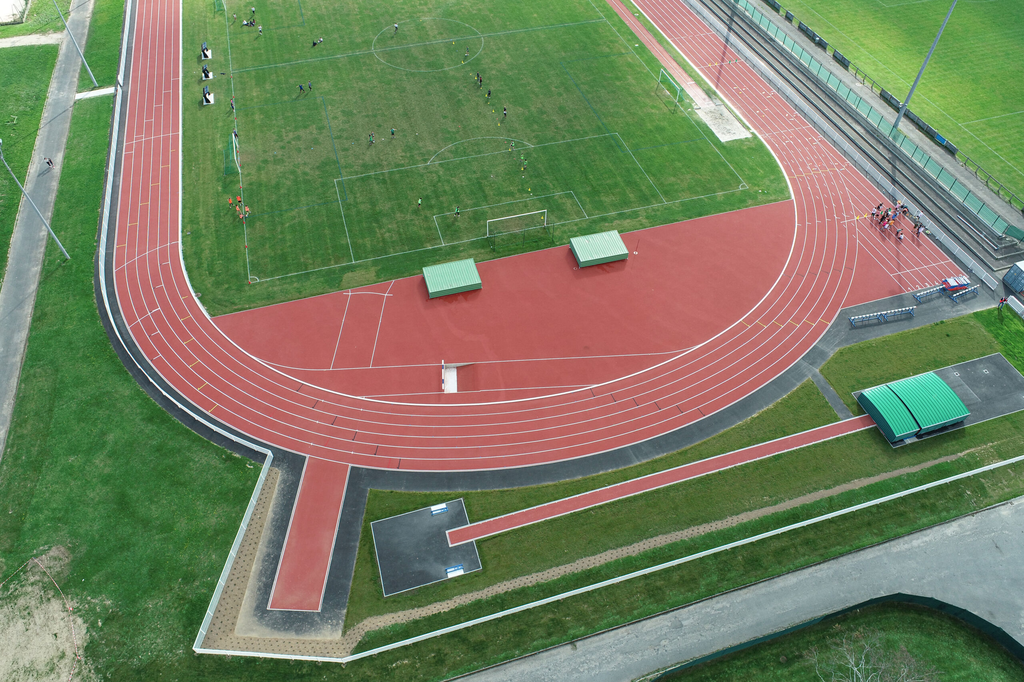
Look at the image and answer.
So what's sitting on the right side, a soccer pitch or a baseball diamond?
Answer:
soccer pitch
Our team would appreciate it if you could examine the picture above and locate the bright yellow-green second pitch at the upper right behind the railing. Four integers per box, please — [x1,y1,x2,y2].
[769,0,1024,211]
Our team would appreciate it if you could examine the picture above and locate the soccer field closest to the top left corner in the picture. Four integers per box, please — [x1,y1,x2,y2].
[179,0,793,318]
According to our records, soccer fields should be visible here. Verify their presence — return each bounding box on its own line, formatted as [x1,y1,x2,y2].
[179,0,793,318]
[769,0,1024,211]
